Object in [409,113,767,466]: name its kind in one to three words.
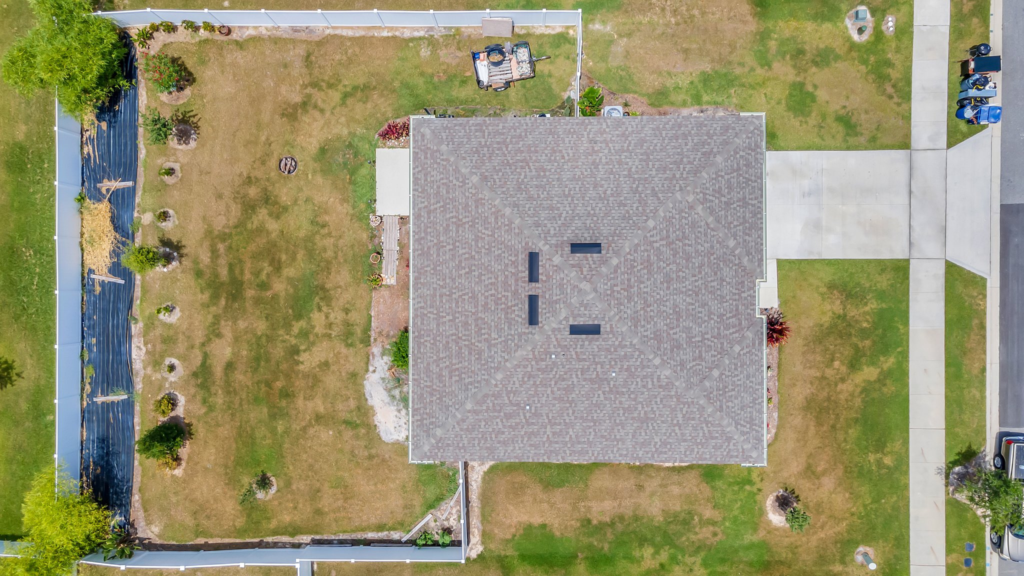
house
